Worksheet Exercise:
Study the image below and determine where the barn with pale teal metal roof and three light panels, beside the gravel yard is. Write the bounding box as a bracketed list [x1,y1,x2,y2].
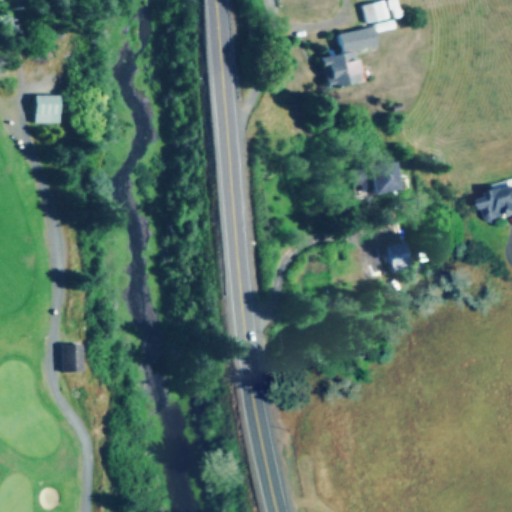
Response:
[34,95,62,124]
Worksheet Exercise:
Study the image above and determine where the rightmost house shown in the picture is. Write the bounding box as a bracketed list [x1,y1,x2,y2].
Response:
[474,178,512,224]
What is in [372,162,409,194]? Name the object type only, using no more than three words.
house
